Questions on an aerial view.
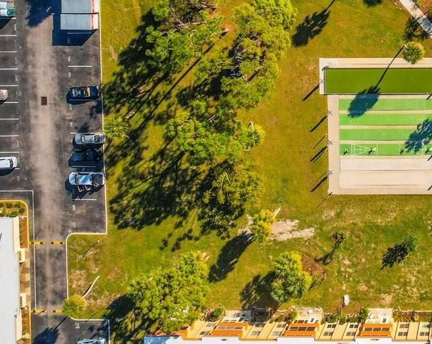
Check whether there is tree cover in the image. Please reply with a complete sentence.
Yes, some tree cover is visible.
